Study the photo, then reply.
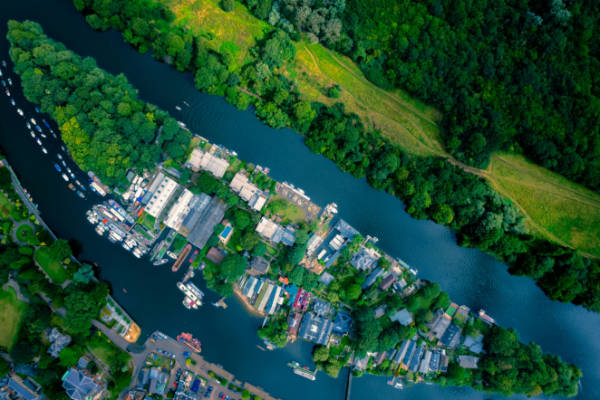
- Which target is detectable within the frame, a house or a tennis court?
house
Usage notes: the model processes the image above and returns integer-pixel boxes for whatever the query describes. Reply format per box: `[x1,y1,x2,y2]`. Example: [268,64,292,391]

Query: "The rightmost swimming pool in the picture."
[217,221,236,243]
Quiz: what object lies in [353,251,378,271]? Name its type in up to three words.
house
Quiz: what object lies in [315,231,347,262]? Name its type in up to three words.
building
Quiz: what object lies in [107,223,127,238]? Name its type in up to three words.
ship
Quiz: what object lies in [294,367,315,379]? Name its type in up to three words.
vessel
